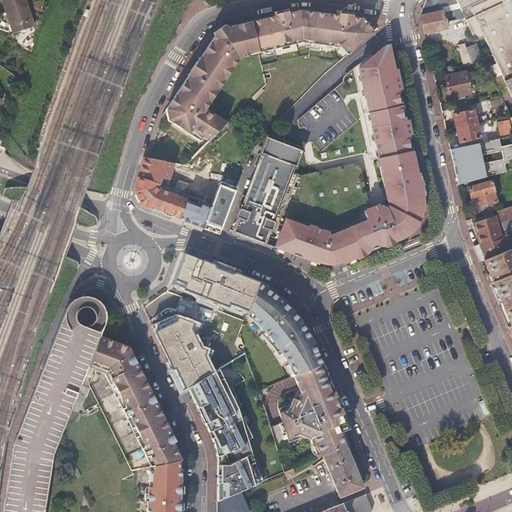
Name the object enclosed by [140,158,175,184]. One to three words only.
house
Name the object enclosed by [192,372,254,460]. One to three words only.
building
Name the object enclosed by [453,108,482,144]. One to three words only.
house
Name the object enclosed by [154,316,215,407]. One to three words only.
building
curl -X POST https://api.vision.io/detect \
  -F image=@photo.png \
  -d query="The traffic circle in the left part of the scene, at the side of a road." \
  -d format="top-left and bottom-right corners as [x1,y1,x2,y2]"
[98,227,164,294]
